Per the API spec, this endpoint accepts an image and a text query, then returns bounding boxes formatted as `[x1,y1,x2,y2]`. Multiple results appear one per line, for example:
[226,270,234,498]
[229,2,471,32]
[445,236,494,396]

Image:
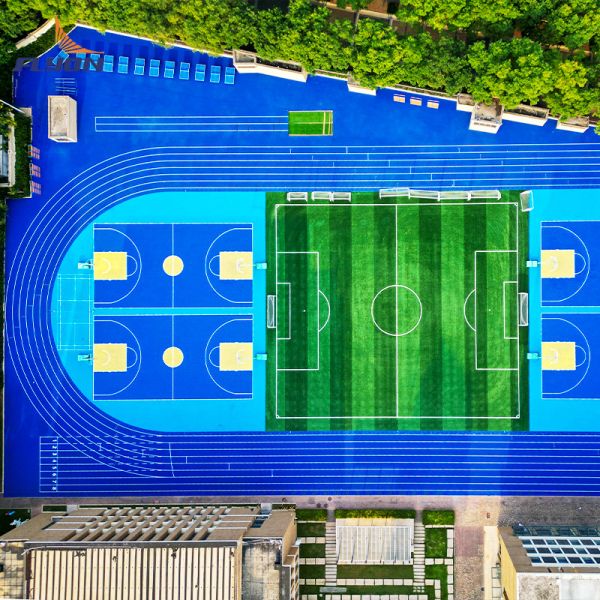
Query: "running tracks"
[6,144,600,491]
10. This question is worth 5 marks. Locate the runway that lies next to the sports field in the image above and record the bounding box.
[95,117,288,130]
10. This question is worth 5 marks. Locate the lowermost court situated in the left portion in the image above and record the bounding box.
[94,314,253,400]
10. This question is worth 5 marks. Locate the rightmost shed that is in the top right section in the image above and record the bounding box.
[557,110,594,132]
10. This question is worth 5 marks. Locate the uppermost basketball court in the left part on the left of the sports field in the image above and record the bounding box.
[94,222,253,308]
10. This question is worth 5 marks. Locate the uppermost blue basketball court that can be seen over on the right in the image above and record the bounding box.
[541,220,600,306]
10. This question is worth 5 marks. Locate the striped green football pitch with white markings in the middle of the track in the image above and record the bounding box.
[265,190,530,431]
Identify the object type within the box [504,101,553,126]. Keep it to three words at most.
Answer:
shed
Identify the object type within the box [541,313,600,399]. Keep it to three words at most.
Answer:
basketball court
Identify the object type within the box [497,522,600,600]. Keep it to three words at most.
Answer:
building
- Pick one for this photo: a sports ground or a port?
sports ground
